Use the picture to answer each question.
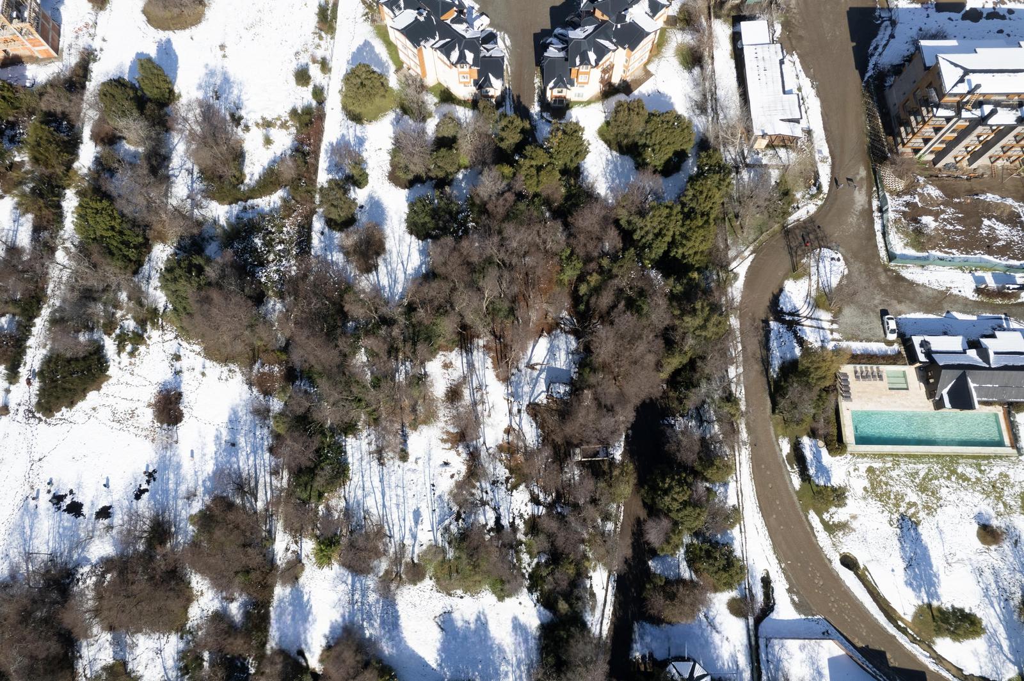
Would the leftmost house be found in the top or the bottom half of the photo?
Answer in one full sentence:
The top half of the photo is where the leftmost house is.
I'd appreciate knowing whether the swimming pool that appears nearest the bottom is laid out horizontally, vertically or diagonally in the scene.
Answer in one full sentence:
What the image shows is the swimming pool that appears nearest the bottom lying horizontally.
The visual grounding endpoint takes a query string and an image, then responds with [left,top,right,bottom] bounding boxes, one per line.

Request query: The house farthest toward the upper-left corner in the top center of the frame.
[379,0,505,115]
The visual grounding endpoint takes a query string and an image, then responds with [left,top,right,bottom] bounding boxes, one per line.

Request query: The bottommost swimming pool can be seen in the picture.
[850,409,1007,448]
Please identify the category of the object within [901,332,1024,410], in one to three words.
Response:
building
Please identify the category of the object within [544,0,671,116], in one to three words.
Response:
house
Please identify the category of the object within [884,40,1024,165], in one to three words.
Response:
building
